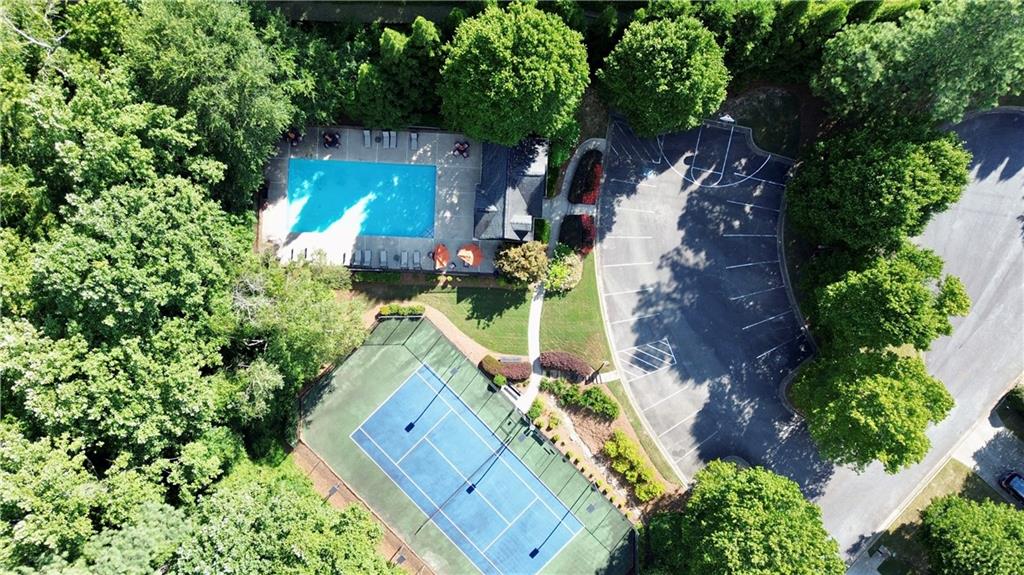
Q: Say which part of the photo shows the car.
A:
bottom right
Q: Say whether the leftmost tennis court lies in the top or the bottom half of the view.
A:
bottom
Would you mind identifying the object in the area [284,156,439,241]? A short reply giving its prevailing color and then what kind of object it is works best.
blue swimming pool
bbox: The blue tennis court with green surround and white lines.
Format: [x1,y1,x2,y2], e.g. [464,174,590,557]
[301,317,634,575]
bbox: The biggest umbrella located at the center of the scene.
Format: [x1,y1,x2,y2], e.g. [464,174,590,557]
[457,241,482,266]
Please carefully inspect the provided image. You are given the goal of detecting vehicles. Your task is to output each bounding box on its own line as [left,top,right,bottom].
[1000,468,1024,502]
